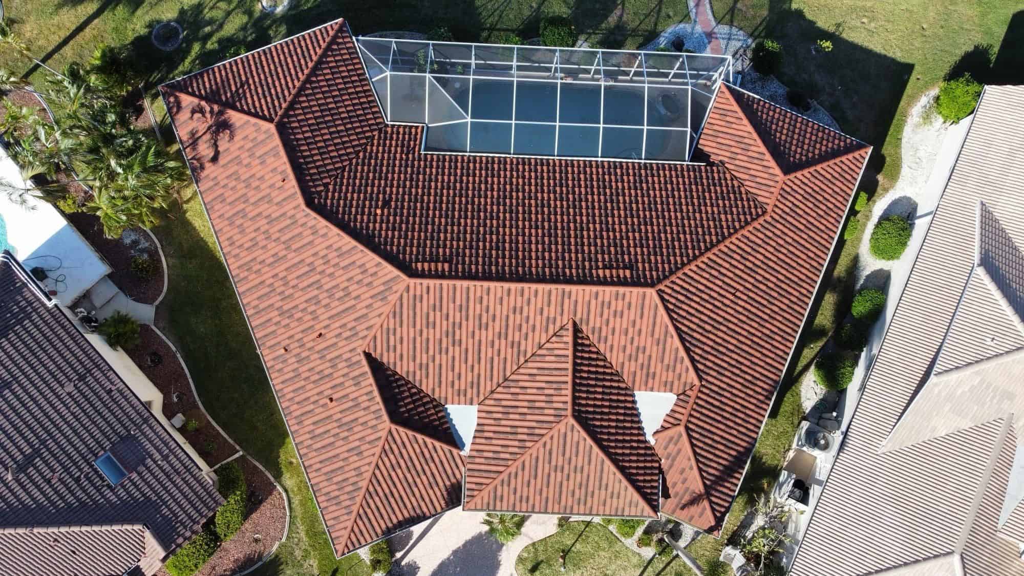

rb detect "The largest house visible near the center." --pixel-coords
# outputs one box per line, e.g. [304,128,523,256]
[156,15,875,560]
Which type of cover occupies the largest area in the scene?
buildings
